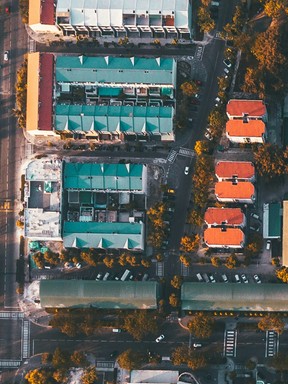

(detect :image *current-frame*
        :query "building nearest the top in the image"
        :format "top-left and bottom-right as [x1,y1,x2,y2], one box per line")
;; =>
[29,0,60,32]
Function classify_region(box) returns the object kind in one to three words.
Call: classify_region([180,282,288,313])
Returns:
building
